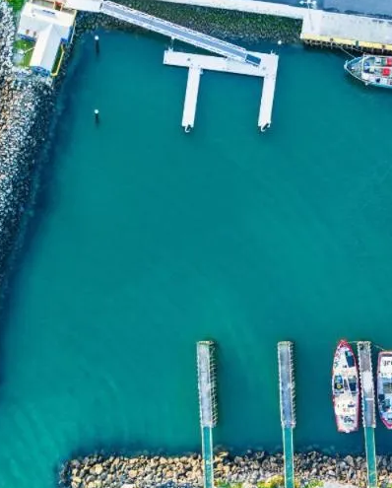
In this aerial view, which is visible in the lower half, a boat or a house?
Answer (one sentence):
Visible in the lower half is a boat.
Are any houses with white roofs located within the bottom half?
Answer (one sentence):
No, looking within the bottom half, there is no house with a white roof.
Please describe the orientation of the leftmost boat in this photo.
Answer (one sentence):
In this picture, the leftmost boat is oriented from top to bottom.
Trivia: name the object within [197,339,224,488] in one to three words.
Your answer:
pier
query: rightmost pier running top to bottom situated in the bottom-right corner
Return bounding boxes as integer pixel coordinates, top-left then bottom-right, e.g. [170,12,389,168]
[357,340,379,488]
